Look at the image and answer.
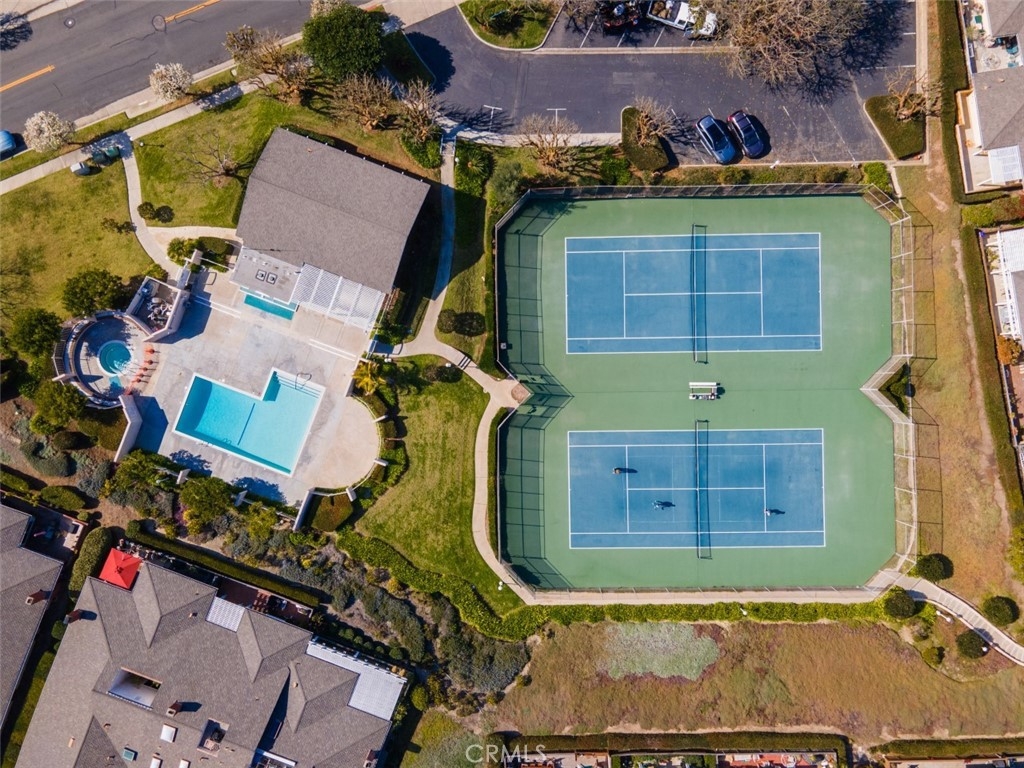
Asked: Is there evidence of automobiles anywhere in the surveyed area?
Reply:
Yes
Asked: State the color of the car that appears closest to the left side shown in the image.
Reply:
blue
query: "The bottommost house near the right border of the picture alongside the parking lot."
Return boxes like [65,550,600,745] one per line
[962,67,1024,152]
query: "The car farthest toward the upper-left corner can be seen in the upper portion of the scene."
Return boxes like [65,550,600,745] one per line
[0,132,20,158]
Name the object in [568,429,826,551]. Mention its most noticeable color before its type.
blue tennis court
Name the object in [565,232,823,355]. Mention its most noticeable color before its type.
blue tennis court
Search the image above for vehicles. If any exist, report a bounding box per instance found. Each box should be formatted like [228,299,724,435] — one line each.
[728,109,762,161]
[0,132,20,158]
[656,0,716,38]
[601,0,662,29]
[696,113,734,166]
